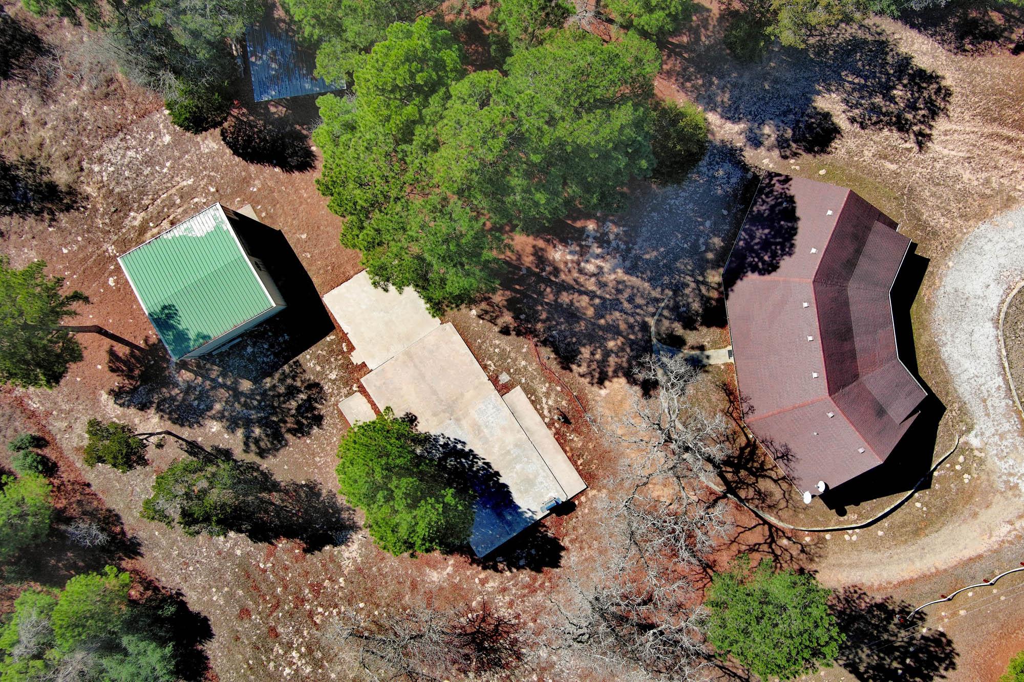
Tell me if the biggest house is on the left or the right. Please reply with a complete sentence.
The biggest house appears in the right half of the scene.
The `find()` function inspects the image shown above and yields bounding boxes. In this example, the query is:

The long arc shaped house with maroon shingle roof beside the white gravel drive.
[721,170,928,499]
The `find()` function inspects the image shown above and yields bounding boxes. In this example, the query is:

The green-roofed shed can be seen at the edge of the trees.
[117,202,287,360]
